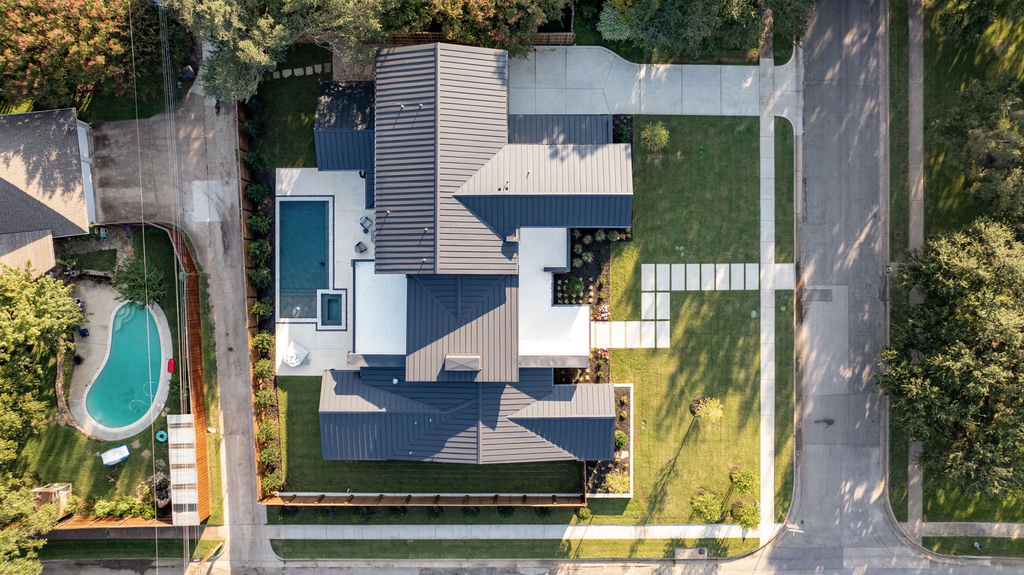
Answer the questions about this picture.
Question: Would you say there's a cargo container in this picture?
No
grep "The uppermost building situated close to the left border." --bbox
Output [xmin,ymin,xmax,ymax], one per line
[0,107,99,249]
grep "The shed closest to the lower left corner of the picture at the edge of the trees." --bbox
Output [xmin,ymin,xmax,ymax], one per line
[32,483,73,519]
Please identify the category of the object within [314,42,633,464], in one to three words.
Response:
house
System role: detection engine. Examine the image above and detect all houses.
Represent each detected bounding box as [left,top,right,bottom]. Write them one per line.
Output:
[0,107,99,249]
[314,42,633,464]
